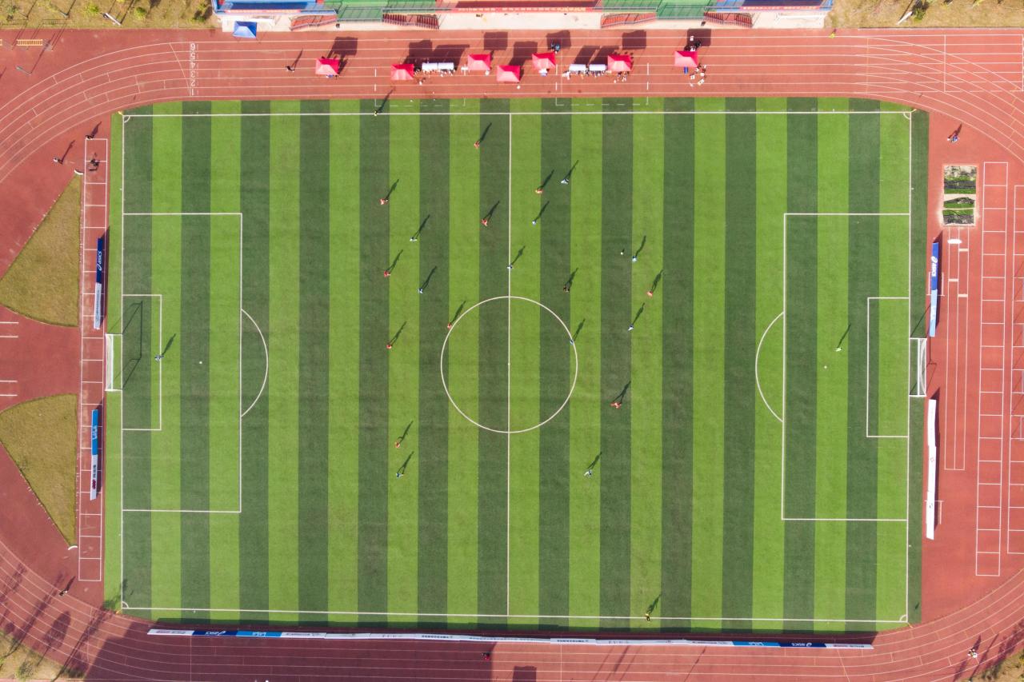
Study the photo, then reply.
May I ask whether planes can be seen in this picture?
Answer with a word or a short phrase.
No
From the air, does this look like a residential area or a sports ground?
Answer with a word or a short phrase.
sports ground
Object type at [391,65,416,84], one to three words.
tent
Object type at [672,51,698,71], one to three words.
tent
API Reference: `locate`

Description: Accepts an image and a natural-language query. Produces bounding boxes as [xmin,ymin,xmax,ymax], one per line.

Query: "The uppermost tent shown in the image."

[234,21,261,42]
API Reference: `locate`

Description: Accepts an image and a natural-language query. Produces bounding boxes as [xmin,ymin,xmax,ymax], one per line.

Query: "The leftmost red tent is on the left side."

[316,59,342,79]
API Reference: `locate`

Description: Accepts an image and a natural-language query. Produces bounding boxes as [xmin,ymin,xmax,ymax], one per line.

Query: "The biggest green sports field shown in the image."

[104,64,929,637]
